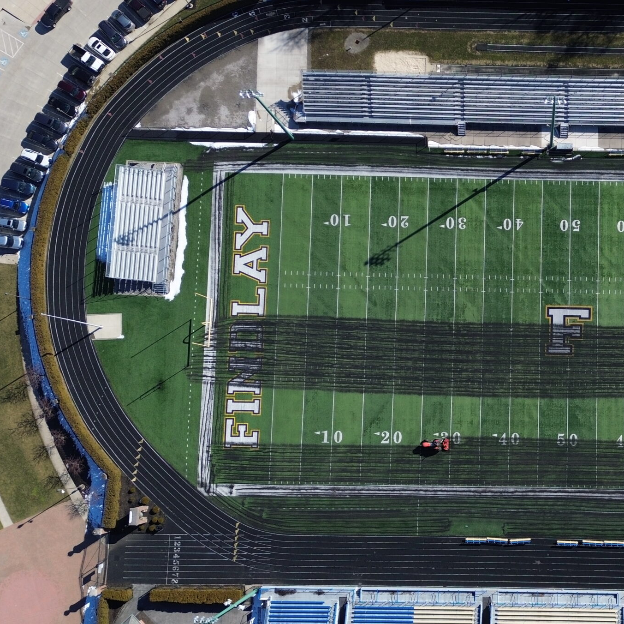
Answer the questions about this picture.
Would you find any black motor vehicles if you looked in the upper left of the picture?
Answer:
Yes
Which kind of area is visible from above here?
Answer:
sports ground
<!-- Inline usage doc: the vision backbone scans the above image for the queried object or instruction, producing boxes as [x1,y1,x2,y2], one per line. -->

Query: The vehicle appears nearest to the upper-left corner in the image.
[38,0,74,30]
